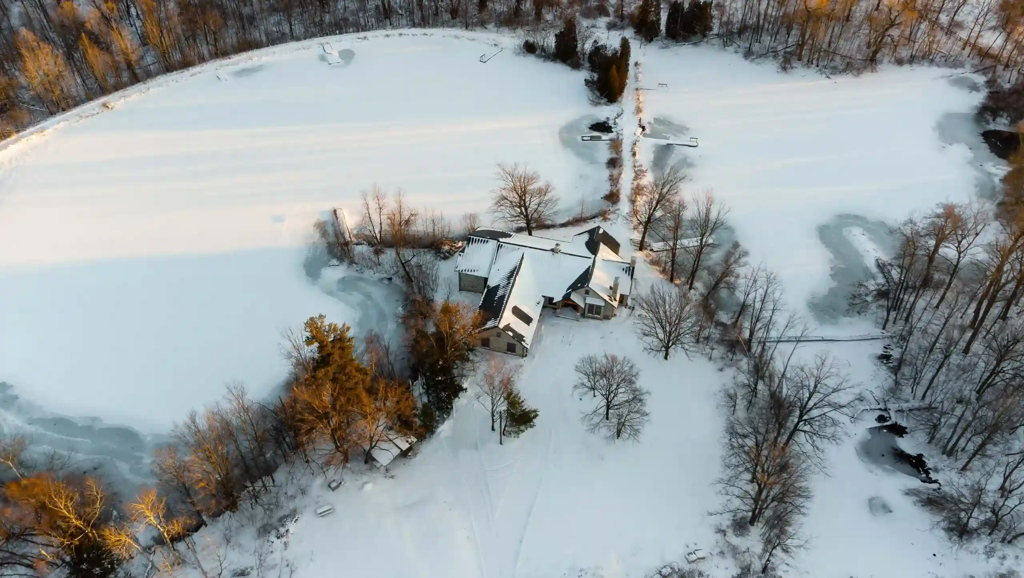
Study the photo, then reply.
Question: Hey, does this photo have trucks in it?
No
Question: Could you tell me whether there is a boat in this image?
No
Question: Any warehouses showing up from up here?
No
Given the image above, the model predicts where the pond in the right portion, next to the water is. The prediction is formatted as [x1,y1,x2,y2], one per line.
[641,47,1024,341]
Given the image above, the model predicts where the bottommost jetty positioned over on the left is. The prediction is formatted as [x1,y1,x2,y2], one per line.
[332,209,350,244]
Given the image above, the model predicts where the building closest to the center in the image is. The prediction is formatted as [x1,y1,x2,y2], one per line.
[451,226,636,355]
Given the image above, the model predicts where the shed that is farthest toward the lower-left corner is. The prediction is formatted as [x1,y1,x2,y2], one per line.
[366,425,417,479]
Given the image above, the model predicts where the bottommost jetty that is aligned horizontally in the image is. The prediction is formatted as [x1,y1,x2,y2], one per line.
[650,239,716,251]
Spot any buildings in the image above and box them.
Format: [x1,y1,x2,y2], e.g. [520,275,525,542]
[366,425,417,479]
[451,226,636,355]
